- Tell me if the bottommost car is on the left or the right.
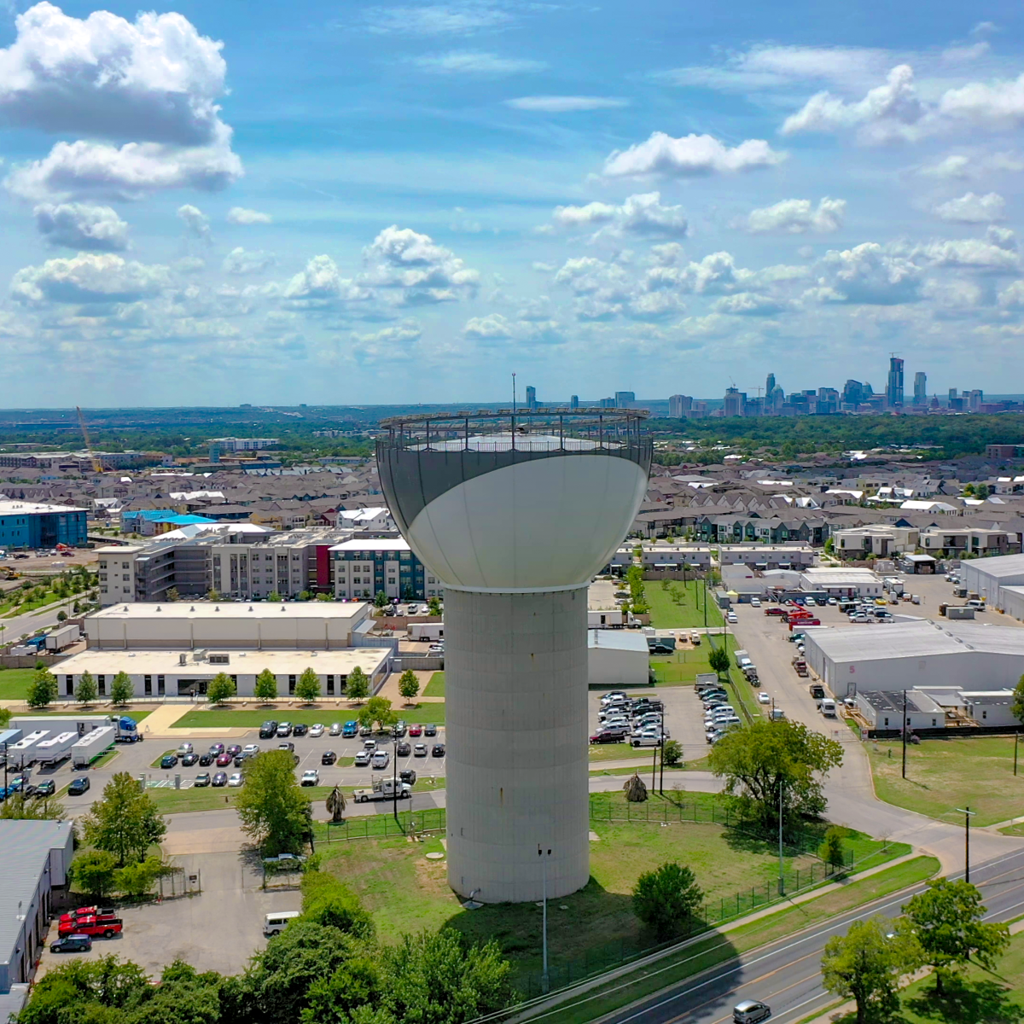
right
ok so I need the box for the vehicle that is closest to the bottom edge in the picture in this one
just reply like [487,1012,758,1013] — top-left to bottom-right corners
[728,994,775,1022]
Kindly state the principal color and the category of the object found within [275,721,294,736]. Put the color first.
gray vehicle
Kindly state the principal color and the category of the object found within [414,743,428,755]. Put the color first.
gray vehicle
